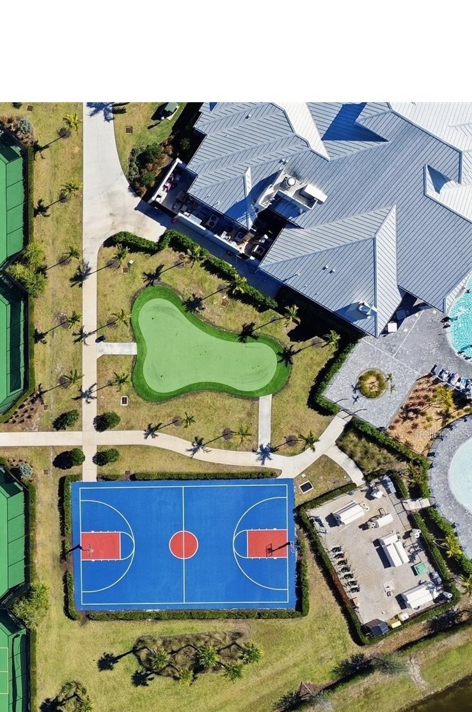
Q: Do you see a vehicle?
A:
No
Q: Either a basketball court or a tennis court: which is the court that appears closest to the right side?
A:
basketball court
